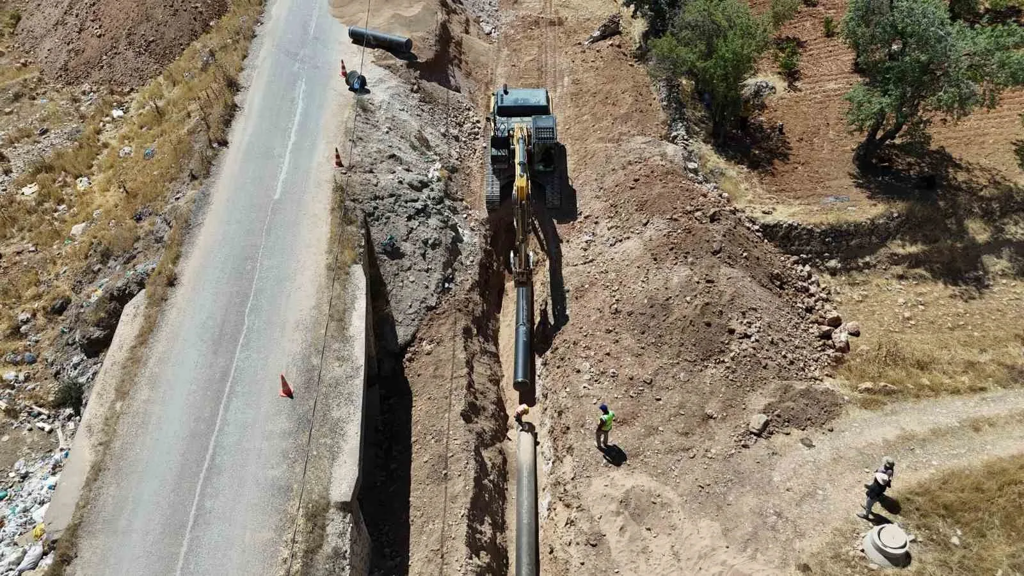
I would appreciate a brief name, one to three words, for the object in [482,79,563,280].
work vehicle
